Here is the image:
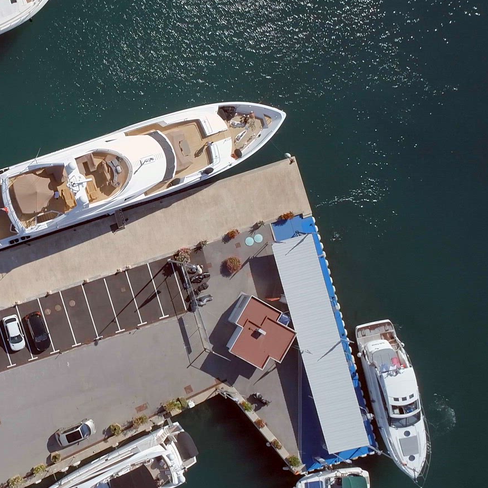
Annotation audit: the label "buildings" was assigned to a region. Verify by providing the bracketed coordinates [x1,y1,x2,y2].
[220,292,296,370]
[266,234,370,454]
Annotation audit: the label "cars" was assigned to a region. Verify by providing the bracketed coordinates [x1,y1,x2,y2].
[25,311,48,351]
[2,314,24,352]
[54,419,95,447]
